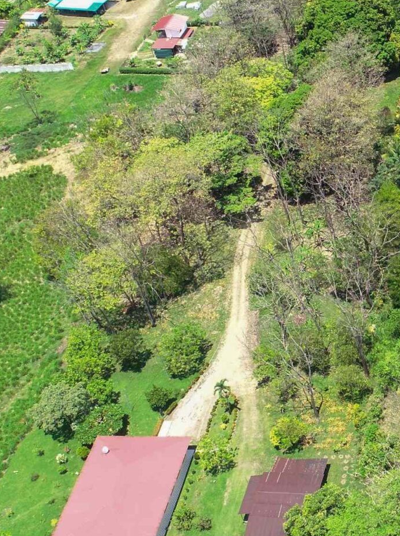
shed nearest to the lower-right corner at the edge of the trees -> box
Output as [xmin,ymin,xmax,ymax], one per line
[238,457,328,536]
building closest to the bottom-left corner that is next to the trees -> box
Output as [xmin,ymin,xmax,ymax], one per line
[53,436,199,536]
